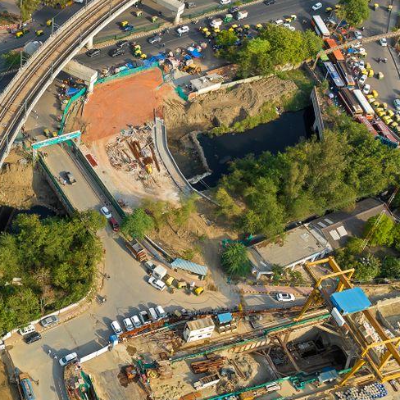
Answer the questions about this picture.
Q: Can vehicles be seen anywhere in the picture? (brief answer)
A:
Yes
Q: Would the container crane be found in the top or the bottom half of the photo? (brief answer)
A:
bottom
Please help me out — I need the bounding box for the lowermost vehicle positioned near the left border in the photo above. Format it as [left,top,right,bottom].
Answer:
[16,367,38,400]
